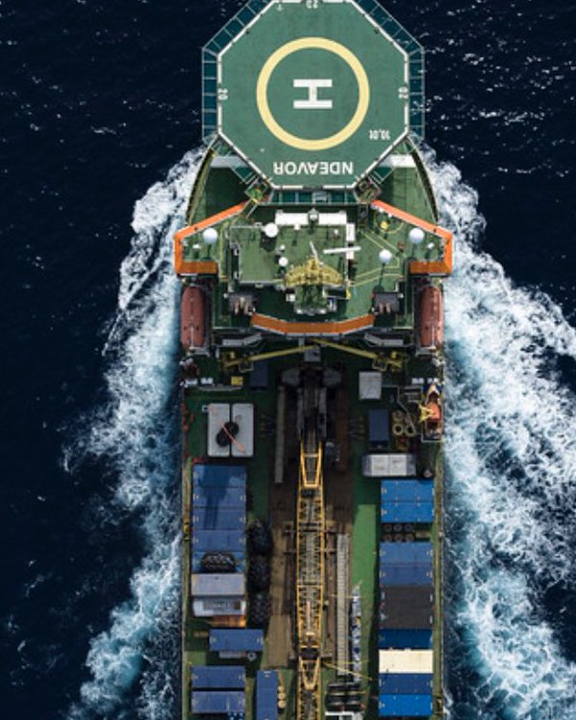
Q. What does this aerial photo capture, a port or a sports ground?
port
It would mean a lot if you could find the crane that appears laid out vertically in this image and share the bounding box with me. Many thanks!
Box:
[282,368,341,720]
